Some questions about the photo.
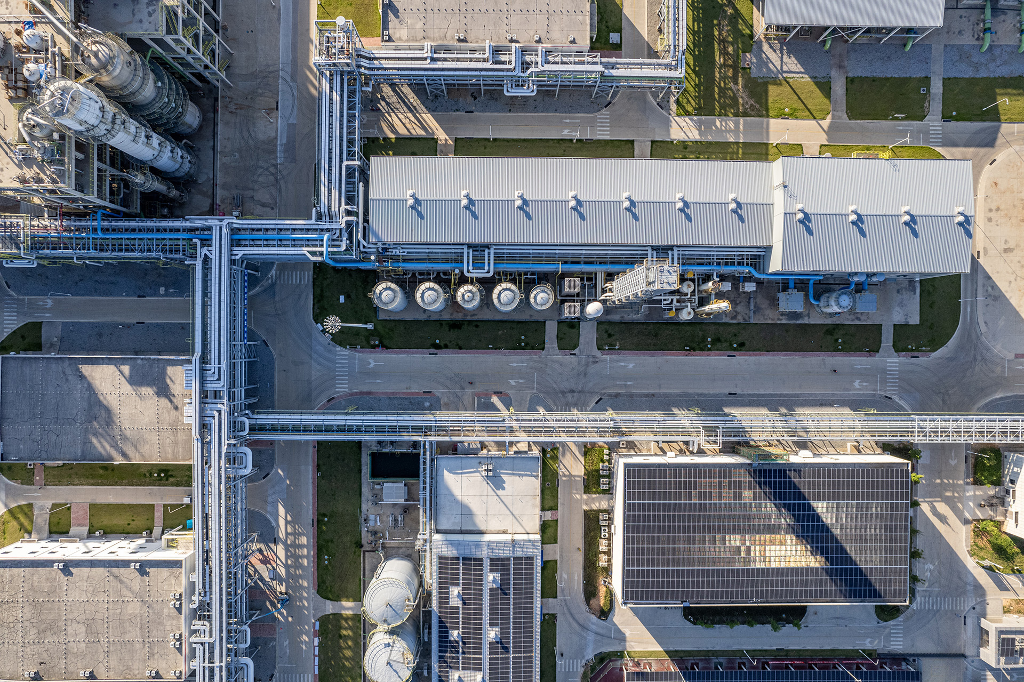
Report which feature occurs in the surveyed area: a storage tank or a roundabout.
storage tank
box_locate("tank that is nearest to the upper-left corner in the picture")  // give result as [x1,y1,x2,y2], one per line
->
[365,280,410,311]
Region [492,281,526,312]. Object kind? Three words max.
storage tank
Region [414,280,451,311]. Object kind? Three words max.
storage tank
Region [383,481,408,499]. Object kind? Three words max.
shed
